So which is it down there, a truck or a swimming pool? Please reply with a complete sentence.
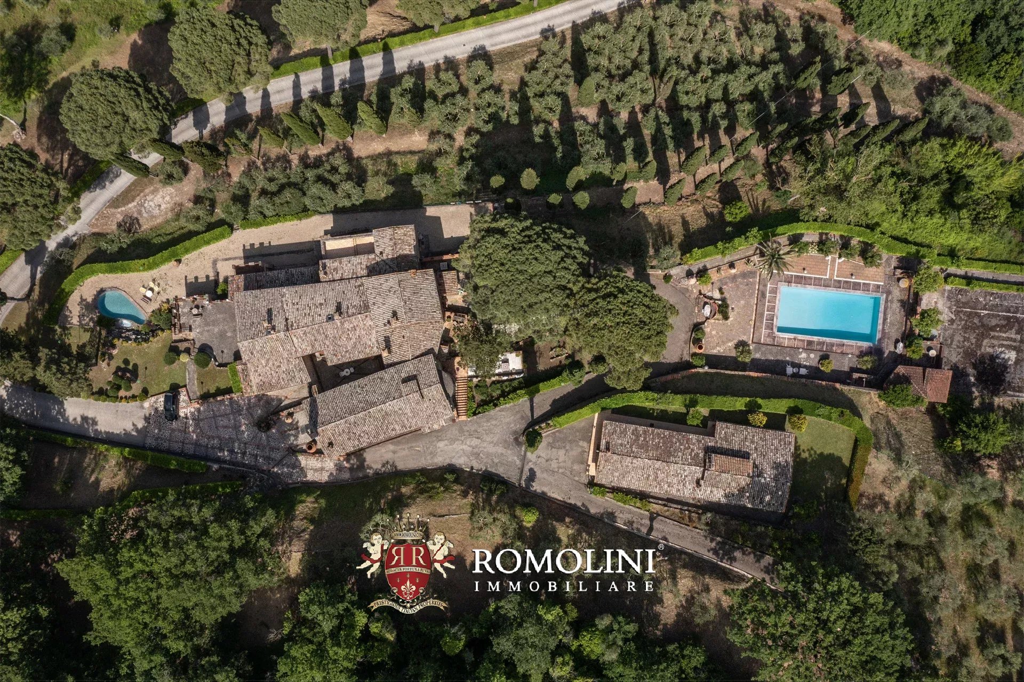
I can see a swimming pool in this picture.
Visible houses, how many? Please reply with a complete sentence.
I count 2 houses.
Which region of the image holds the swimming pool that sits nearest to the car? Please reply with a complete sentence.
You can find the swimming pool that sits nearest to the car in the left area of the picture.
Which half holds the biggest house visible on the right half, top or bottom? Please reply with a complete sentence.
The biggest house visible on the right half is in the bottom half of the image.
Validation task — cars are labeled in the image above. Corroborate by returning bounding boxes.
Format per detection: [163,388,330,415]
[159,393,177,423]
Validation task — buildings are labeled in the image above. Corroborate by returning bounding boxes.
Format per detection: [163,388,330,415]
[595,420,795,514]
[879,366,953,403]
[173,225,461,399]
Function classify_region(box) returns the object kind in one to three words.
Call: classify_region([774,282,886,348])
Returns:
swimming pool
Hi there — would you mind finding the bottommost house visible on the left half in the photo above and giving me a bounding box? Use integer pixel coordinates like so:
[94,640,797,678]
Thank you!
[302,357,454,458]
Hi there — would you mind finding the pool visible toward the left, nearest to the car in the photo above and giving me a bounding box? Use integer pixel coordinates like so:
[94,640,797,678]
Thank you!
[96,288,148,324]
